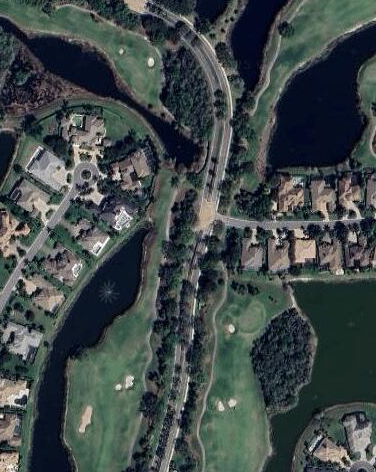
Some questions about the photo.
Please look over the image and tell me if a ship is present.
No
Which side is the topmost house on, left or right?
left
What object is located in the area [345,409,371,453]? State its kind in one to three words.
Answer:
house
